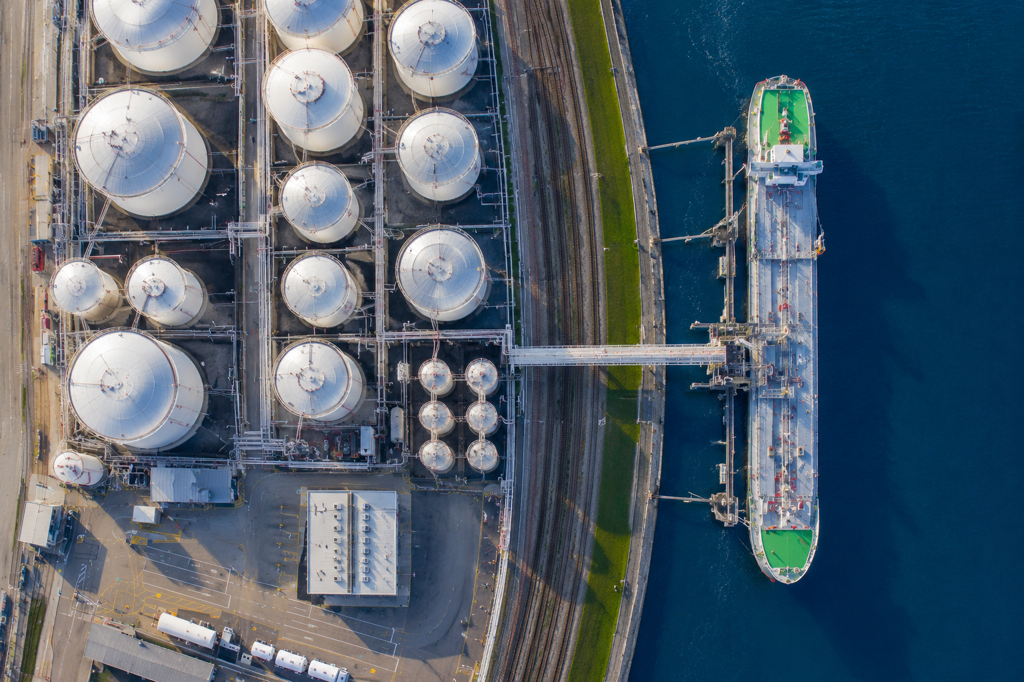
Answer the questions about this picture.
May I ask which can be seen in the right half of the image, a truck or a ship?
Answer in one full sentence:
Looking in the right half of the image, you will find a ship.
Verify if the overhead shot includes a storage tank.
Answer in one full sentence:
Yes, a storage tank appears in the view.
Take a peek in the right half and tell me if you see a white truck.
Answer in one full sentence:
No, the scene shows no white truck in the right half.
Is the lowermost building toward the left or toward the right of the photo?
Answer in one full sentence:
The lowermost building appears in the left half of the scene.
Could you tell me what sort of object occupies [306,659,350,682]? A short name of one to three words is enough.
truck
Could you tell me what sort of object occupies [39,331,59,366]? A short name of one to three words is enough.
trailer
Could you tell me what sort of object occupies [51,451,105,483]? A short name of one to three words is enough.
storage tank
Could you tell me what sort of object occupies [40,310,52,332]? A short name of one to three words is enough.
vehicle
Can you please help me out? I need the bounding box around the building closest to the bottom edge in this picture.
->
[84,623,216,682]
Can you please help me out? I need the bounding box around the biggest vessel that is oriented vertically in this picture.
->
[739,73,825,584]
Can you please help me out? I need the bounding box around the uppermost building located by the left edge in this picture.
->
[28,155,57,201]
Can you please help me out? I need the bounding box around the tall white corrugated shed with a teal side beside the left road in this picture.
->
[18,502,68,548]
